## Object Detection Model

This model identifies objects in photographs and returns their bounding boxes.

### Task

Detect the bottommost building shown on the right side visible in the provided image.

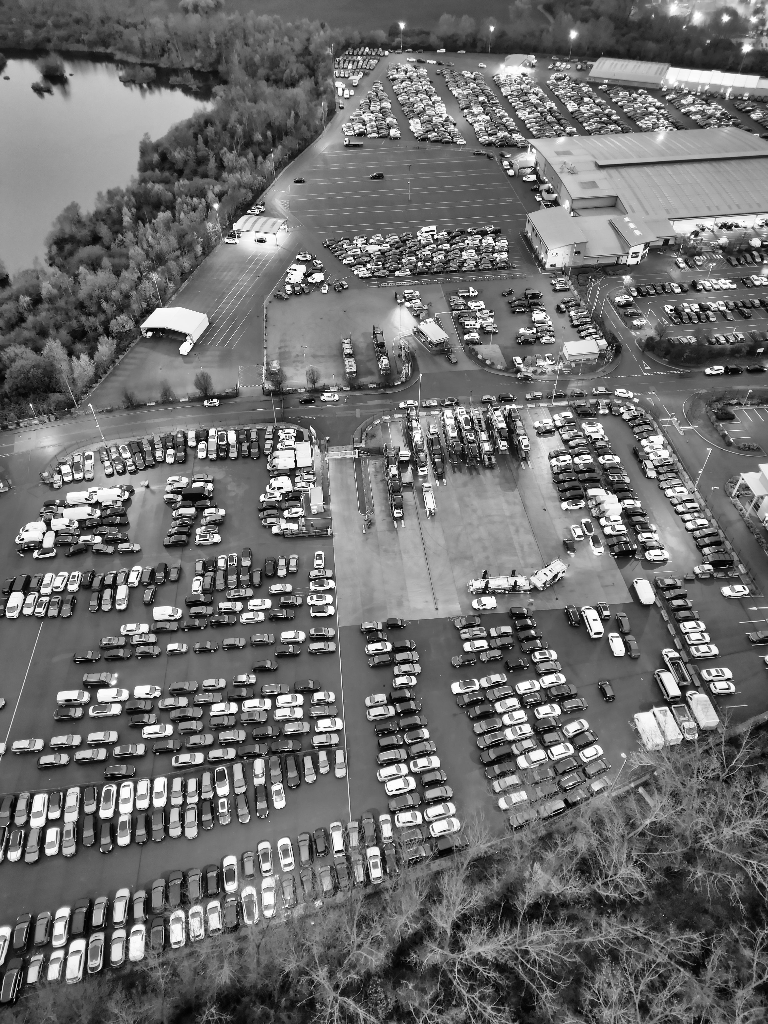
[732,448,768,517]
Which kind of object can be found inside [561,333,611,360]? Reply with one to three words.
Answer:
shed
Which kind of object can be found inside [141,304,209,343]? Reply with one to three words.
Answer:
tent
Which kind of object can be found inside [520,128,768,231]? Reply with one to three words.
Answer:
building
